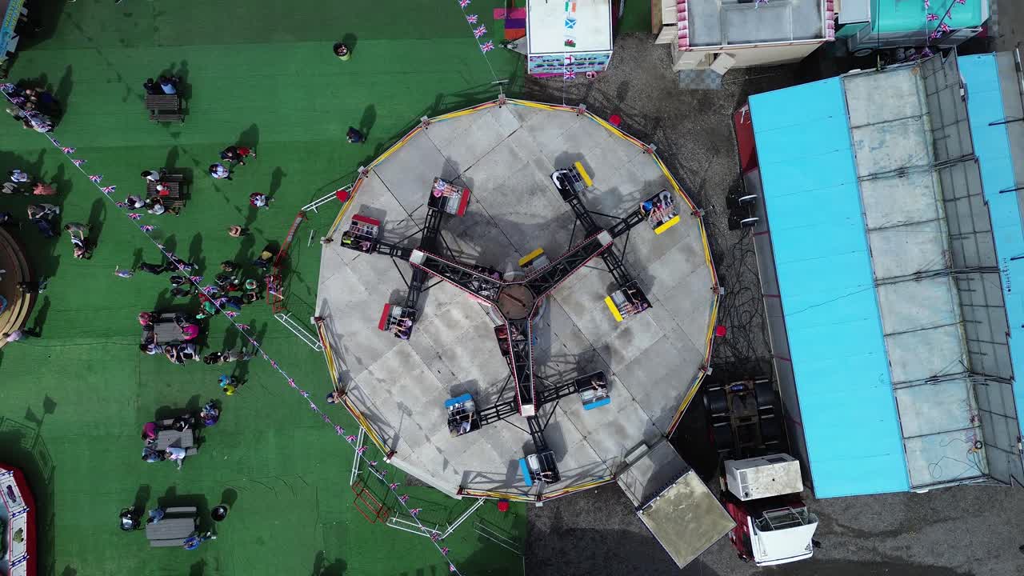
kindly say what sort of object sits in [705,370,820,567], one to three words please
truck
